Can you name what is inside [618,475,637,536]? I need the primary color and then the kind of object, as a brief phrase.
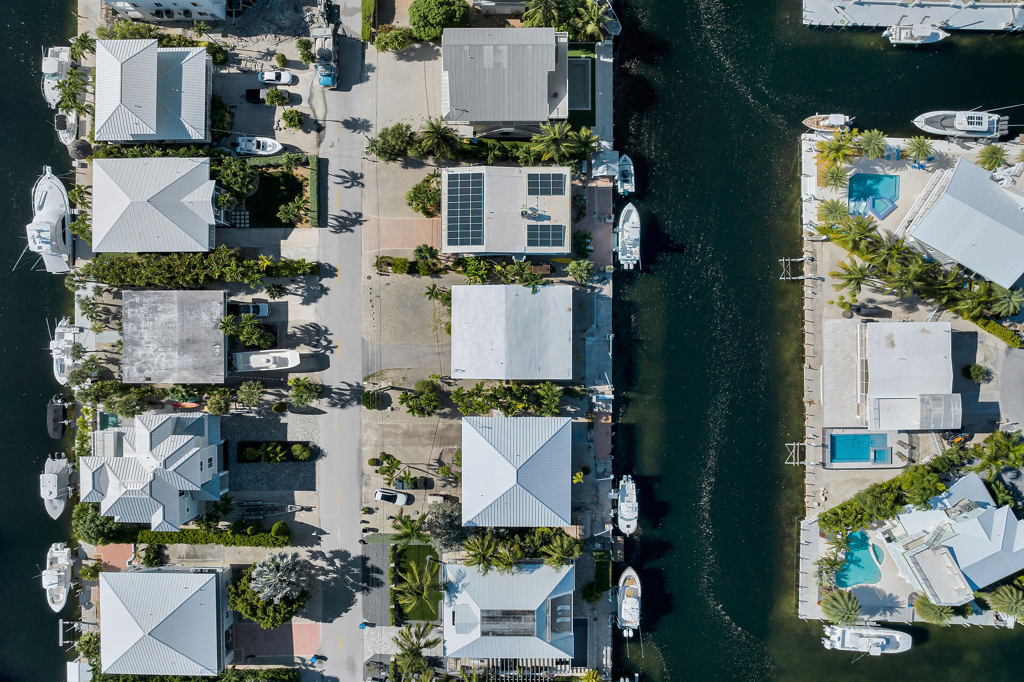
white boat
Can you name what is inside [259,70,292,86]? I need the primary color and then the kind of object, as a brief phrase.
white car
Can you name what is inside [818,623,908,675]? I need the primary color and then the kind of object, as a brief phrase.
white boat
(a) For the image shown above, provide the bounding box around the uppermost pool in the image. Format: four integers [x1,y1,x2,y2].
[567,57,592,111]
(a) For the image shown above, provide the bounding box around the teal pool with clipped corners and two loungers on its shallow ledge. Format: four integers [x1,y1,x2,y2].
[847,172,901,219]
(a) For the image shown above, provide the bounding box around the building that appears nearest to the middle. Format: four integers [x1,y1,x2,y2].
[451,284,573,379]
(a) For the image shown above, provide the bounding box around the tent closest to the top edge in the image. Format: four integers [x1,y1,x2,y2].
[590,145,618,175]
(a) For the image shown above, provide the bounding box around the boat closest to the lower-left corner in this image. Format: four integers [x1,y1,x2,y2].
[28,544,72,611]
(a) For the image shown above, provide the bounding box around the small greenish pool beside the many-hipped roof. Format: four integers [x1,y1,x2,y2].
[98,411,119,431]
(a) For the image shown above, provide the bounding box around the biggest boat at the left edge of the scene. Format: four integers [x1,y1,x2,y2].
[1,154,83,272]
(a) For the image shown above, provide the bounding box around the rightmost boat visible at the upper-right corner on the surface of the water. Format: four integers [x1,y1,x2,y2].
[916,101,1023,138]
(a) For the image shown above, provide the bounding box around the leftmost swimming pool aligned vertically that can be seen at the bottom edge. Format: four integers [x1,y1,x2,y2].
[571,616,590,670]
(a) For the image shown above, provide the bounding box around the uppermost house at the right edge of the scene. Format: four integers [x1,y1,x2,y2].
[895,157,1024,289]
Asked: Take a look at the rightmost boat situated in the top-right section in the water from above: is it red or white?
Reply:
white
